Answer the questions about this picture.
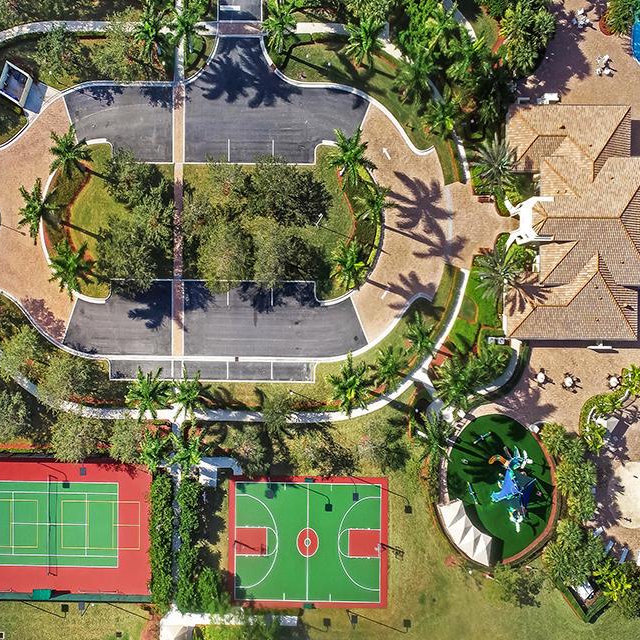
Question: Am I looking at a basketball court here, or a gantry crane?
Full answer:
This aerial view contains a basketball court.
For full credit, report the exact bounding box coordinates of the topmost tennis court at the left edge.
[0,462,148,594]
